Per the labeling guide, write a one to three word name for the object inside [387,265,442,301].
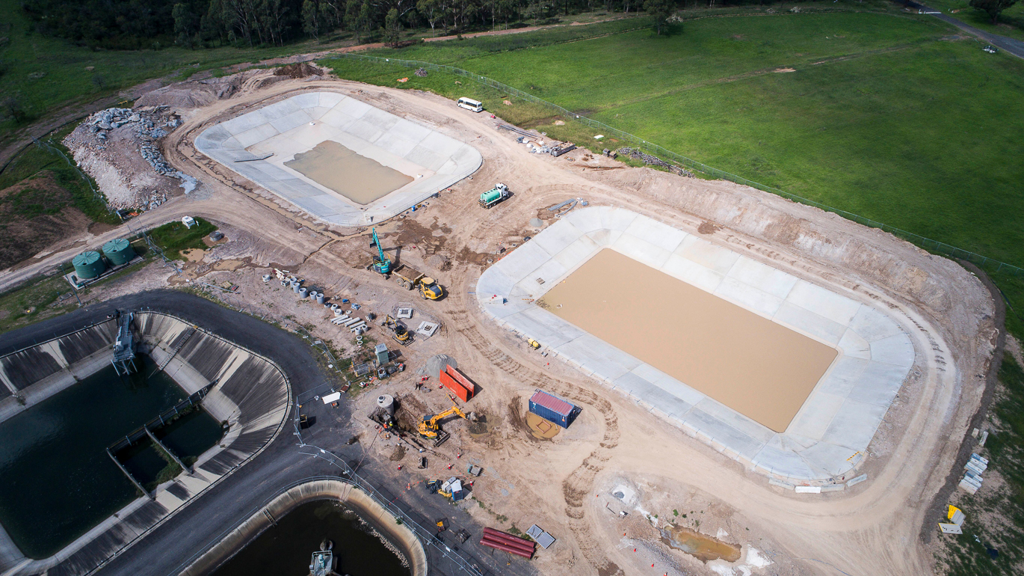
truck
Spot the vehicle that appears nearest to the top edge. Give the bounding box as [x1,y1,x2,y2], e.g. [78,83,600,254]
[460,96,486,112]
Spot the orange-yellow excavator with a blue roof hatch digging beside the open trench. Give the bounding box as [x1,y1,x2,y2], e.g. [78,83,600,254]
[416,404,471,452]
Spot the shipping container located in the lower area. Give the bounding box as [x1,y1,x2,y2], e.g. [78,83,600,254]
[528,388,576,429]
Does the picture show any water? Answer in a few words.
Yes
